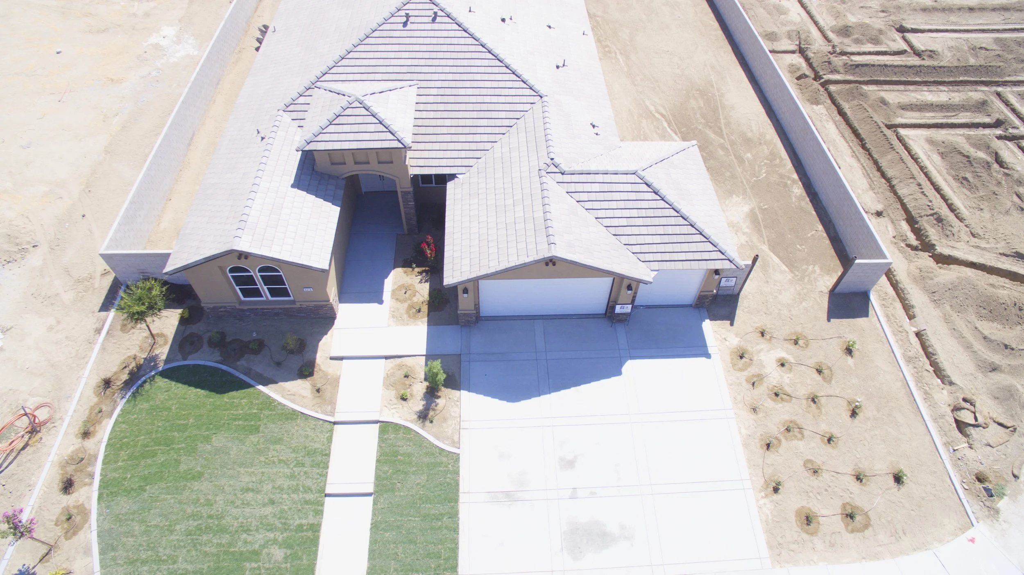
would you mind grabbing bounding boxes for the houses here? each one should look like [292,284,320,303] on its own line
[163,0,747,327]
